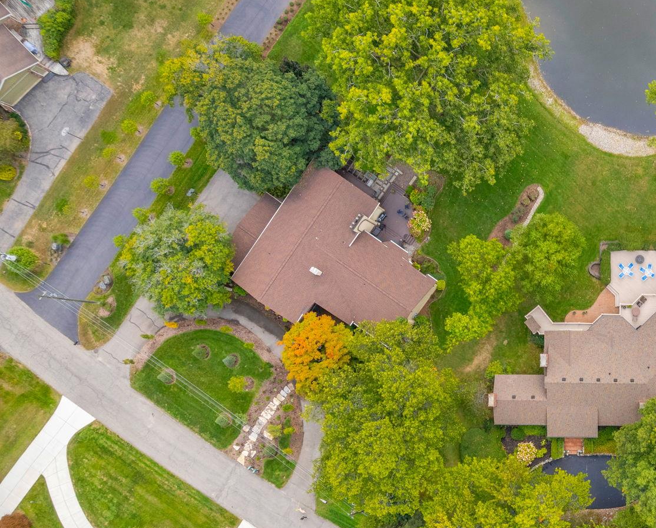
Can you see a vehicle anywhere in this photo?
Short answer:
No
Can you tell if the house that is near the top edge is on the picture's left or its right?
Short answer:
left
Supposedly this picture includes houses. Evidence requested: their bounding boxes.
[488,312,656,438]
[231,158,438,343]
[0,8,54,107]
